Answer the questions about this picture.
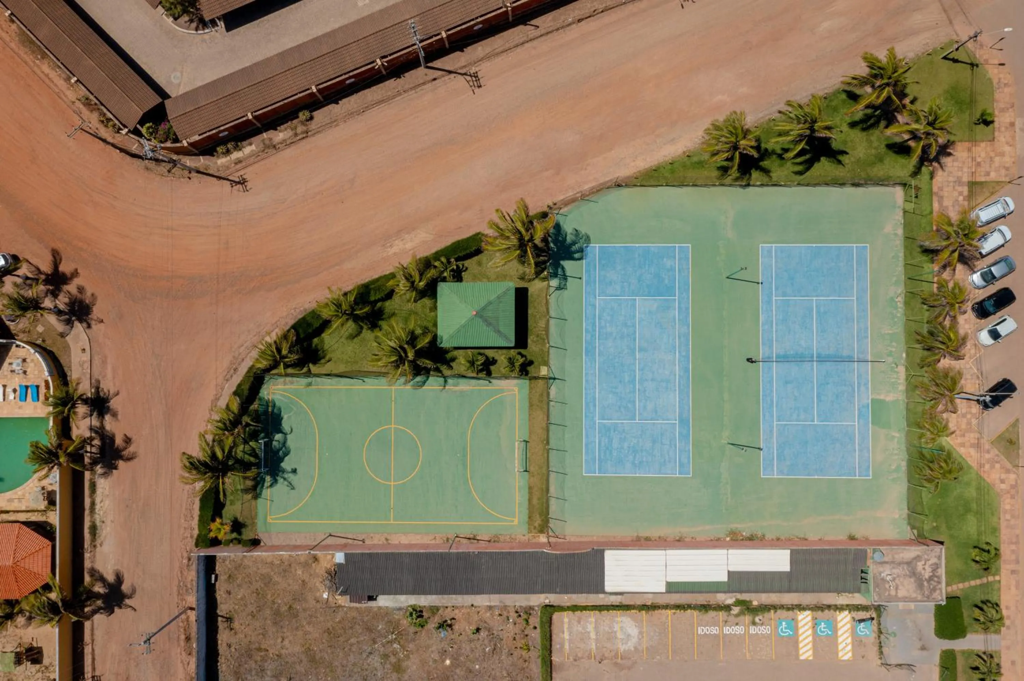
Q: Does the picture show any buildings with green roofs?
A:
Yes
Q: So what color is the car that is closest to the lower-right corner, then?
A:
black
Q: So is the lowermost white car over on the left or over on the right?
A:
right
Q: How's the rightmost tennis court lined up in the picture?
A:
vertically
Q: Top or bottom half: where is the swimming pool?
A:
bottom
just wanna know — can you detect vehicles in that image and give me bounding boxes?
[975,375,1020,412]
[0,253,19,274]
[967,197,1012,227]
[970,226,1011,258]
[975,314,1019,346]
[967,255,1015,288]
[970,285,1019,319]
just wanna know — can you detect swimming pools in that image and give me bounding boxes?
[0,416,50,495]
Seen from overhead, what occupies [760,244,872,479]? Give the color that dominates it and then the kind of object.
blue tennis court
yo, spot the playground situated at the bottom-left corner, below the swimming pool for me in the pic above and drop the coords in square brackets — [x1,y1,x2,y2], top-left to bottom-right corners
[0,633,43,672]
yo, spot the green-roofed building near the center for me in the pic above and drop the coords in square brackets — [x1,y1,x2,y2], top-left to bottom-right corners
[437,282,515,347]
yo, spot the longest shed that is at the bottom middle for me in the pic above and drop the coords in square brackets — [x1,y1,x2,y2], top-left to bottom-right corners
[335,549,866,603]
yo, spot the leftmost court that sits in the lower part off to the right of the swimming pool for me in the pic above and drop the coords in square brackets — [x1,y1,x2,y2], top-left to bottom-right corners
[257,377,529,534]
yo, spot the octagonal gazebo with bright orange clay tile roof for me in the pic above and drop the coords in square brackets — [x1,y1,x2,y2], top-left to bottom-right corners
[0,521,57,600]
